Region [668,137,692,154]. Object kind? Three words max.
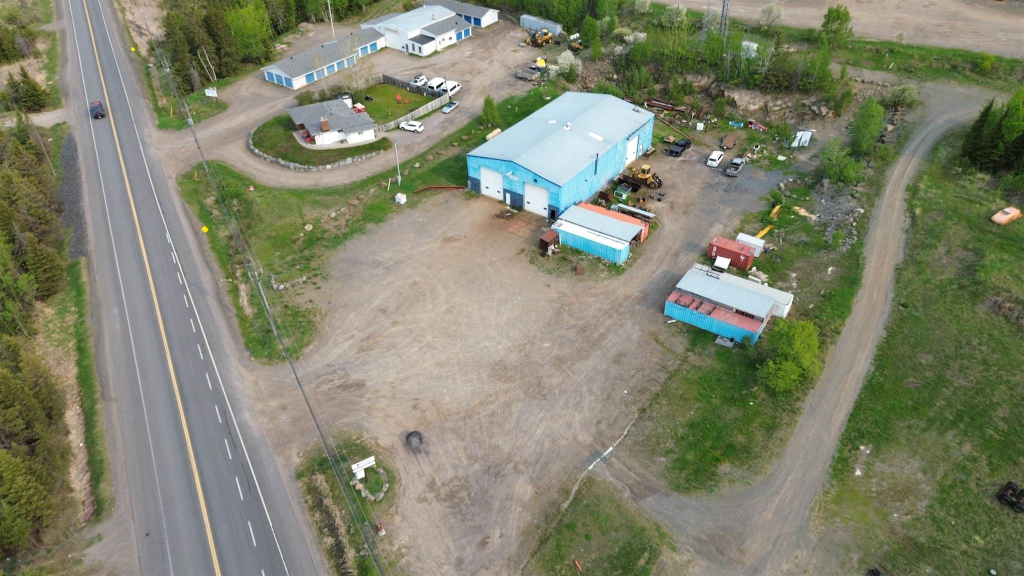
vehicle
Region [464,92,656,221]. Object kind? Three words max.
building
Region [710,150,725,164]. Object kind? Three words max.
car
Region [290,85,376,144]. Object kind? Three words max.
house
